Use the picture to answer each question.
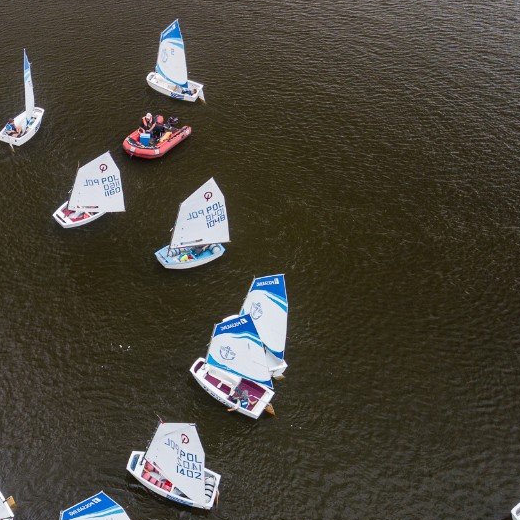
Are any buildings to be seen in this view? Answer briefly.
No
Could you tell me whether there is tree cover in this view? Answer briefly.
No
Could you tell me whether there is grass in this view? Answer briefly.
No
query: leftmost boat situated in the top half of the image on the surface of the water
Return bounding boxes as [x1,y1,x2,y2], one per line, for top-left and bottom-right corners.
[0,48,45,151]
